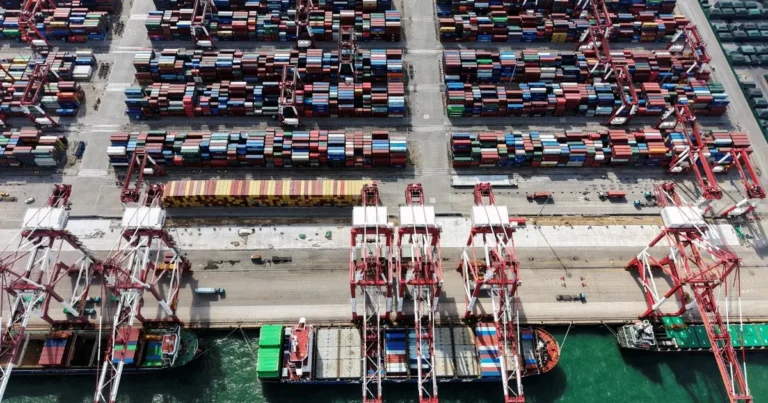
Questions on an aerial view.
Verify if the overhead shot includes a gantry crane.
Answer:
Yes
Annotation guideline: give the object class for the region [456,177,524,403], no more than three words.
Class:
container crane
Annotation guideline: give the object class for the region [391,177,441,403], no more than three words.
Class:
container crane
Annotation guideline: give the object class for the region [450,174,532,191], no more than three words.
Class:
shed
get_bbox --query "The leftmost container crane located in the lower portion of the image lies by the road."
[0,181,104,403]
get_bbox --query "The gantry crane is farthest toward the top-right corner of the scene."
[668,26,714,83]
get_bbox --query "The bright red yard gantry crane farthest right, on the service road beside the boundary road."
[711,147,768,216]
